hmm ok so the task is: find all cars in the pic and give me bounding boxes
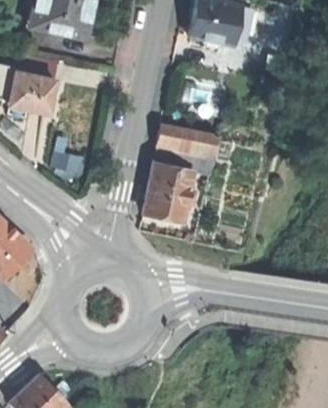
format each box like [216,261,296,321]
[64,40,82,50]
[114,110,123,128]
[135,10,146,30]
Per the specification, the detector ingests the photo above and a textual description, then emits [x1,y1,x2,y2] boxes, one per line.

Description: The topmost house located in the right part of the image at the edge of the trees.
[190,0,246,49]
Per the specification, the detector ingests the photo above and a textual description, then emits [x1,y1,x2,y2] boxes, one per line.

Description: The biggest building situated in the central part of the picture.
[142,160,201,226]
